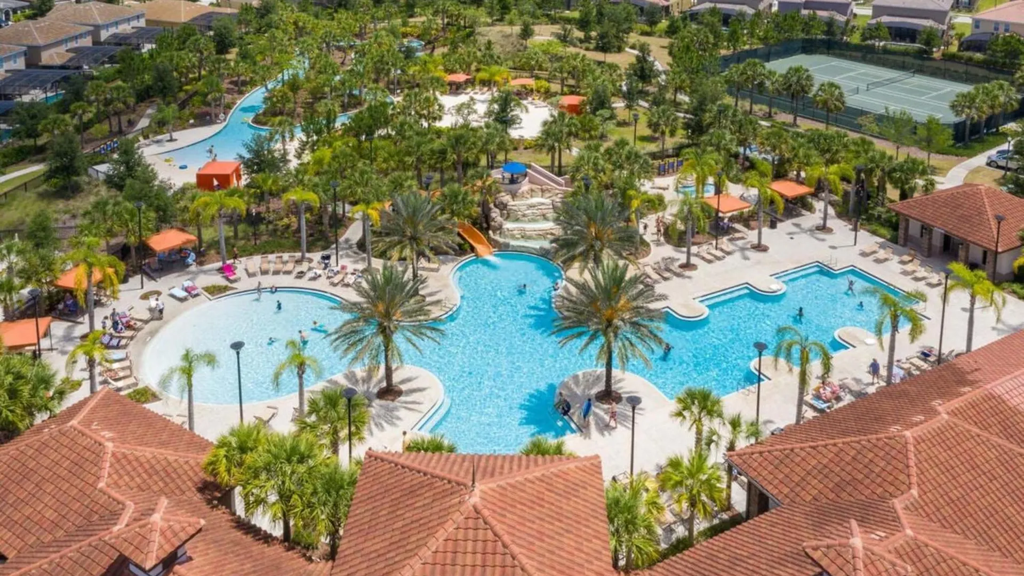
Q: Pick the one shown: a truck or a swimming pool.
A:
swimming pool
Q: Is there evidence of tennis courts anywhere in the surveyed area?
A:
Yes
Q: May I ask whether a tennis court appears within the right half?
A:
Yes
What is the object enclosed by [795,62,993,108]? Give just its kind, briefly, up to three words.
tennis court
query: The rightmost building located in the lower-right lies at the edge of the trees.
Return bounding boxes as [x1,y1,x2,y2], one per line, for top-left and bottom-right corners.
[620,331,1024,576]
